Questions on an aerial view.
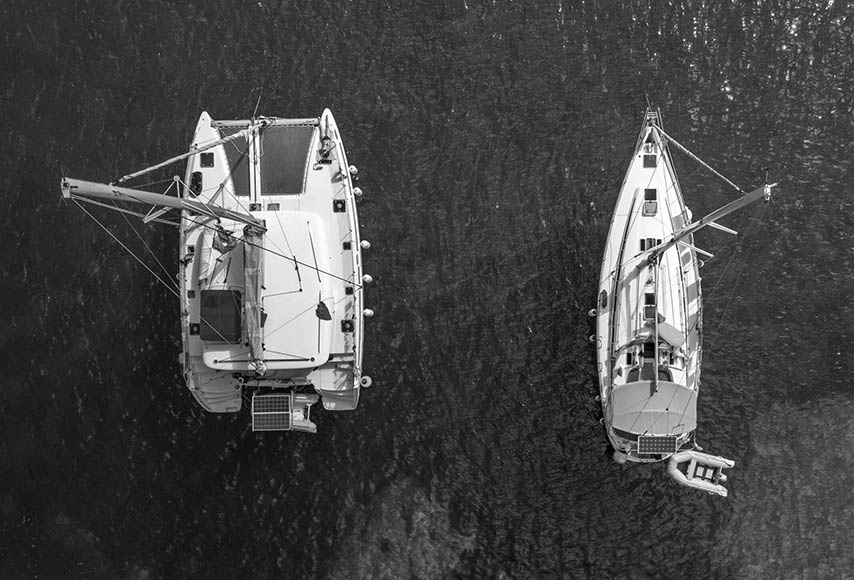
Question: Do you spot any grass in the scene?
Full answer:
No, grass can't be seen anywhere here.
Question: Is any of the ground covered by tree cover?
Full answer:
No, tree cover can't be seen anywhere here.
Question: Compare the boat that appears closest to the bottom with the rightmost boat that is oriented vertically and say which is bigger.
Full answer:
It is the rightmost boat that is oriented vertically that is larger, not the boat that appears closest to the bottom.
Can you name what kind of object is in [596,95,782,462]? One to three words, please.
boat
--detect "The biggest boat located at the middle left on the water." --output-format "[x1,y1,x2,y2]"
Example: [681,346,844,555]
[44,95,365,431]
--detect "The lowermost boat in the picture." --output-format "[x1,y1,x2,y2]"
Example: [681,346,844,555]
[666,451,736,501]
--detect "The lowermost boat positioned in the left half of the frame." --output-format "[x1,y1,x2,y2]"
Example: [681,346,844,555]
[249,392,321,433]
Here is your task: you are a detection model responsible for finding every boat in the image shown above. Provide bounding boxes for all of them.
[44,95,365,431]
[666,451,736,501]
[596,95,782,462]
[249,392,321,433]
